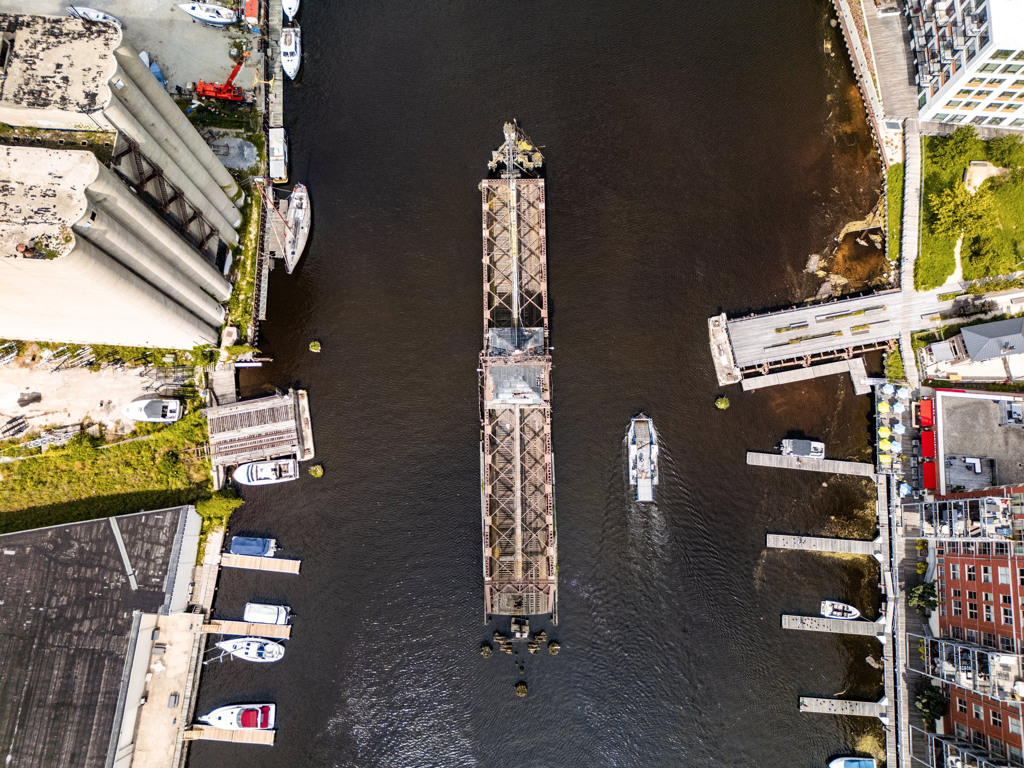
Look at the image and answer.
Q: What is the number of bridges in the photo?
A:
one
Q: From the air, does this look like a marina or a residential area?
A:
marina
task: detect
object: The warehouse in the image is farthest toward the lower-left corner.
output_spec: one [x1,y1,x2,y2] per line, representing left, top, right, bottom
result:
[0,505,202,768]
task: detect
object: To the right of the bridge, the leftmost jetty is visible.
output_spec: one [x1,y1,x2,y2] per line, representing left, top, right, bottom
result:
[704,313,742,388]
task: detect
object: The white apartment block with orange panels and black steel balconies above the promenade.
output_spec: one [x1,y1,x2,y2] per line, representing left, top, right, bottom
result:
[893,0,1024,126]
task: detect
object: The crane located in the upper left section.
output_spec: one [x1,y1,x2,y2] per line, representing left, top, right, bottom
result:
[194,50,250,107]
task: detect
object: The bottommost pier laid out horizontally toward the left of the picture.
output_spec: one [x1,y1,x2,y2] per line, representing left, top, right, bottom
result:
[195,723,277,747]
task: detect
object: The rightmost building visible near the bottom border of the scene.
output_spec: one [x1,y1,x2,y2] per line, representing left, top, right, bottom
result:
[904,478,1024,768]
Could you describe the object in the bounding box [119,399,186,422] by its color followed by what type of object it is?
white boat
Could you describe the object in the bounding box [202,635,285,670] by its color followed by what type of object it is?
white boat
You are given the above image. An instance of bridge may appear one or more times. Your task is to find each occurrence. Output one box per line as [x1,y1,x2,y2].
[475,142,558,637]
